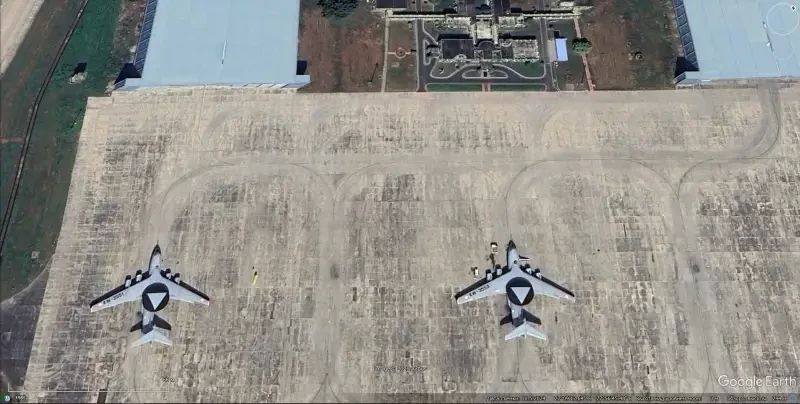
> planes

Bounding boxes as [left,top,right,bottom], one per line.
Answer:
[458,234,575,343]
[96,241,214,349]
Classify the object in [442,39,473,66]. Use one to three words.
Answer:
building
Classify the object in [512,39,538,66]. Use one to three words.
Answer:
building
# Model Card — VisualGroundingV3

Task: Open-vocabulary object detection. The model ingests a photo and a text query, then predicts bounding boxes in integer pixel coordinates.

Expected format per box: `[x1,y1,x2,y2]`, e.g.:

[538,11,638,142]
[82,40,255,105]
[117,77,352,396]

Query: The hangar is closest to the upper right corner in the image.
[670,0,800,88]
